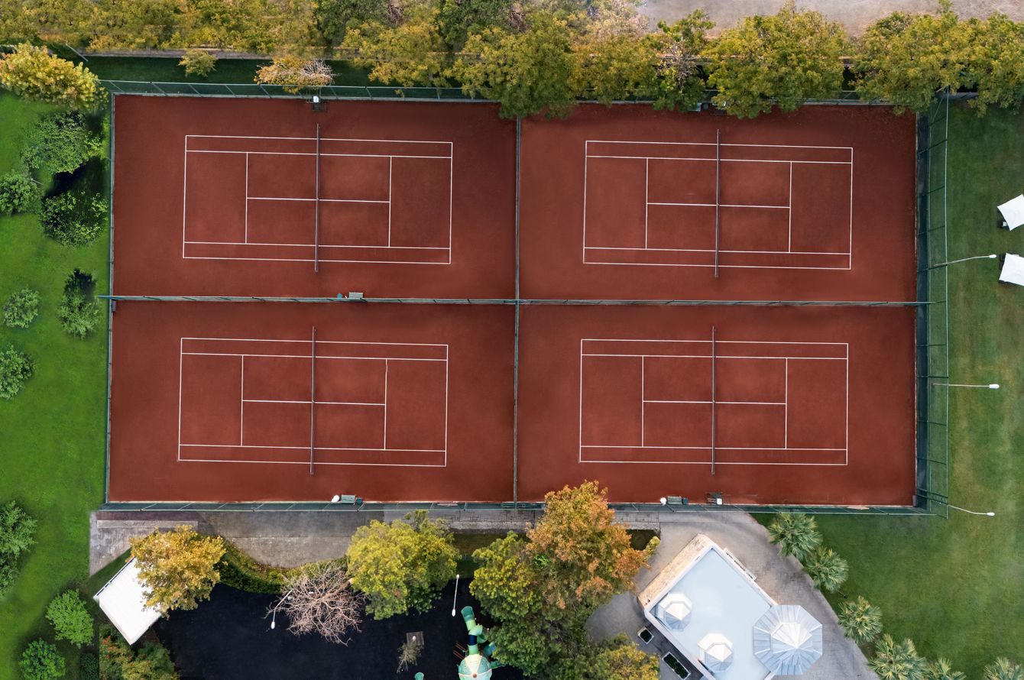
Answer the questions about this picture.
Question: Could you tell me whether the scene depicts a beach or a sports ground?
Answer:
sports ground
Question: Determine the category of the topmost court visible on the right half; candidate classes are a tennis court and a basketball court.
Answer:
tennis court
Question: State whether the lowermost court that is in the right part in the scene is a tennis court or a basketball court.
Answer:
tennis court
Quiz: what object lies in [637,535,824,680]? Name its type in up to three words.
building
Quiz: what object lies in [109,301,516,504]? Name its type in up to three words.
tennis court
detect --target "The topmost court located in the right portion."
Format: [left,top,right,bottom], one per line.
[518,101,916,302]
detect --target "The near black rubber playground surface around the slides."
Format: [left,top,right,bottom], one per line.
[157,576,541,680]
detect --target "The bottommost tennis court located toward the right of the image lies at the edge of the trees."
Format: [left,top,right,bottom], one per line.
[517,303,915,506]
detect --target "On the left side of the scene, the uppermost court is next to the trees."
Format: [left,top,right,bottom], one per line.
[111,95,517,303]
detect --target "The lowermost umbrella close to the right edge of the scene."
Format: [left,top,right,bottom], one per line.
[995,253,1024,286]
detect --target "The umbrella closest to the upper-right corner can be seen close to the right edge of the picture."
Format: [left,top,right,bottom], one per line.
[997,194,1024,231]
